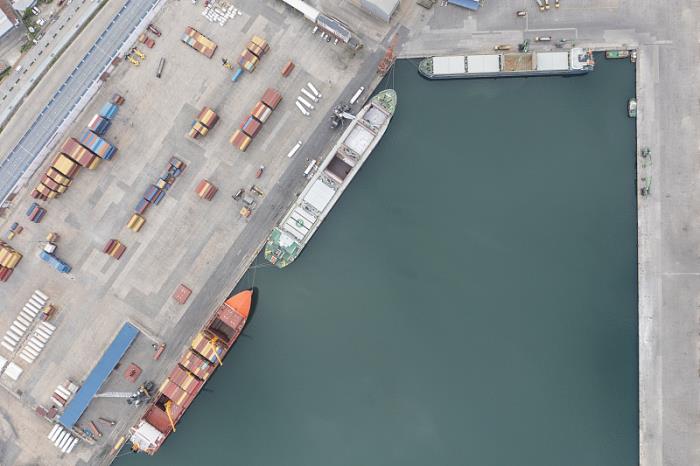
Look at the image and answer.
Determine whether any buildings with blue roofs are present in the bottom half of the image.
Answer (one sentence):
Yes, a building with a blue roof can be seen in the bottom half of the image.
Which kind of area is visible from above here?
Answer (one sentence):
The area seen from above is a port.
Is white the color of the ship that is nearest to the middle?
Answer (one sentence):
Yes, the ship that is nearest to the middle is white.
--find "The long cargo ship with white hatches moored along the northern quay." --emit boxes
[418,49,595,79]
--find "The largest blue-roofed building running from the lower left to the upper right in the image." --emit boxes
[58,321,142,428]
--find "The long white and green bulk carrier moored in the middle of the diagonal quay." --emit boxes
[264,89,398,270]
